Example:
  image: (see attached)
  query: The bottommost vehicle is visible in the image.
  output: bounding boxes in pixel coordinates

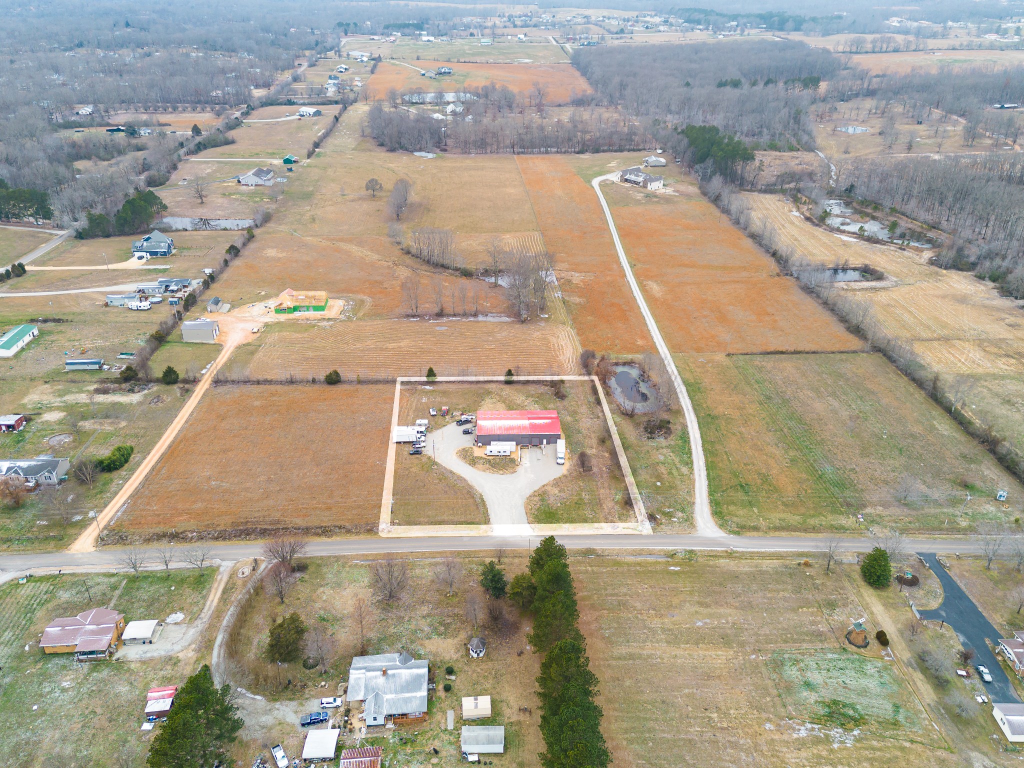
[268,738,291,768]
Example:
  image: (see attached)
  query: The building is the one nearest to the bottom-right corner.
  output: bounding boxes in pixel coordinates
[984,694,1024,743]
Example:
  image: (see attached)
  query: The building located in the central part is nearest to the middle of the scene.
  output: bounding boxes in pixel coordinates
[476,408,563,446]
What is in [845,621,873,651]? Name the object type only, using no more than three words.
windmill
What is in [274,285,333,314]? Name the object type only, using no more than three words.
house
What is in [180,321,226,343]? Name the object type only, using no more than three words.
building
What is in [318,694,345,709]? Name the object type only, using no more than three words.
car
